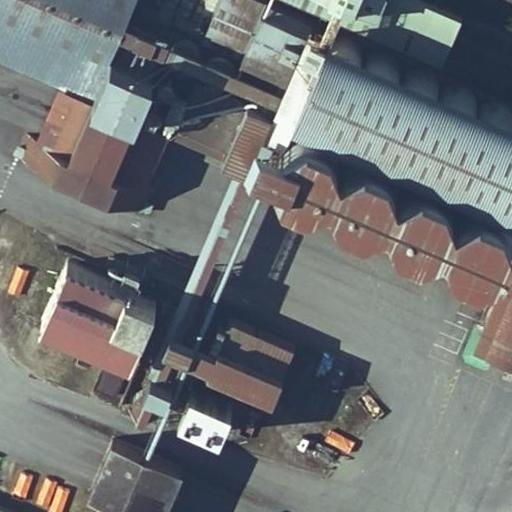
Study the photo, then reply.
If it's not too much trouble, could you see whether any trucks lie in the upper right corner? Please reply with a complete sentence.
No, no truck can be made out in the upper right corner.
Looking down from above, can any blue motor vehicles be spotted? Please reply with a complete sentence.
No, no blue motor vehicle can be seen from above.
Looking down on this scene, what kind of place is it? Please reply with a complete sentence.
The area seen from above is an industrial area.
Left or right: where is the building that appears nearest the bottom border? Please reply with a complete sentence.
The building that appears nearest the bottom border is on the left side of the image.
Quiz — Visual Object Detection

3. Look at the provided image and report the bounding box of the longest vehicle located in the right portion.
[298,440,342,470]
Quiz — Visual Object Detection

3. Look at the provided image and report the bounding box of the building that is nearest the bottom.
[82,435,183,512]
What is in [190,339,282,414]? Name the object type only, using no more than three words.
building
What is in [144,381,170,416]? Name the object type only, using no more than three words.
shed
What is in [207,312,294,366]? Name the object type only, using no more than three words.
building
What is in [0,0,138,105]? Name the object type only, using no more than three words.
shed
